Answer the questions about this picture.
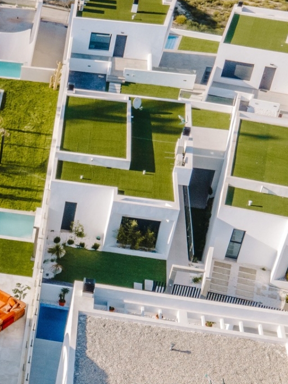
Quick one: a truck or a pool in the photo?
pool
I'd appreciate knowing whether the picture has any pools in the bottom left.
Yes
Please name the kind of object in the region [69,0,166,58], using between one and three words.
house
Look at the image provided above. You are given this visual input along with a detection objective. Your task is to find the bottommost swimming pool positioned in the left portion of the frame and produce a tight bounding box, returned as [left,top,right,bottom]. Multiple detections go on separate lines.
[32,304,66,342]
